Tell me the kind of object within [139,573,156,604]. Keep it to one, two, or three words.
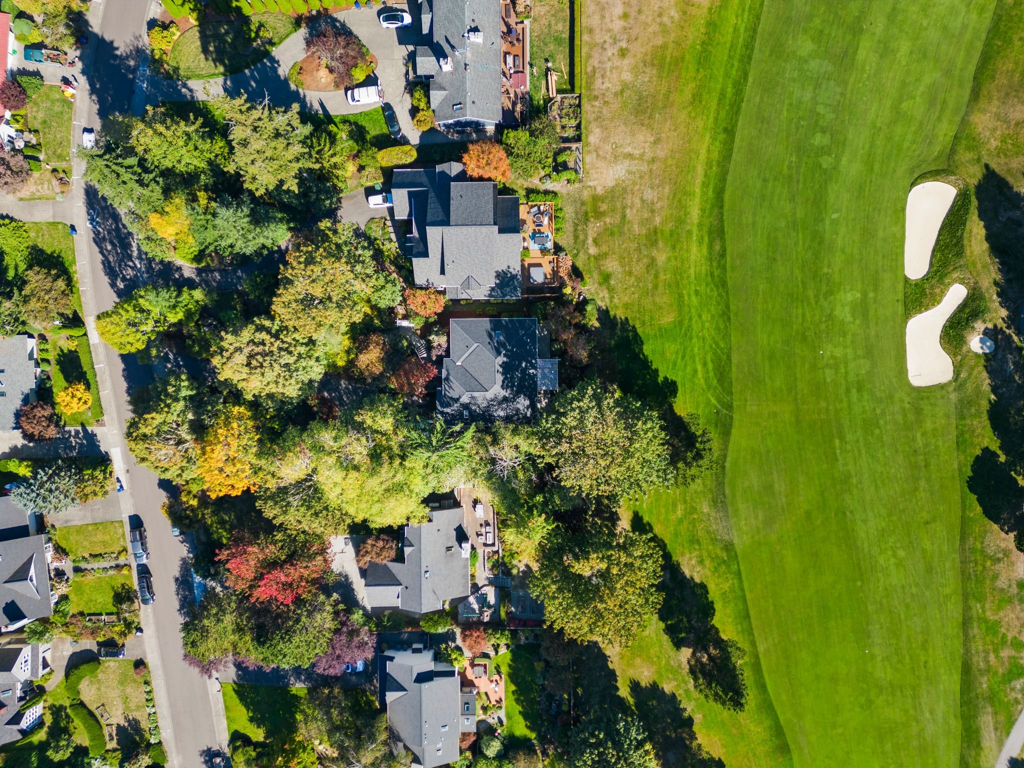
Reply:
car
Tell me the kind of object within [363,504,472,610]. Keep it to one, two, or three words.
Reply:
house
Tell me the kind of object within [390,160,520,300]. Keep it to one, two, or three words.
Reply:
house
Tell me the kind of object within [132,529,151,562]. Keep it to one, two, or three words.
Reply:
vehicle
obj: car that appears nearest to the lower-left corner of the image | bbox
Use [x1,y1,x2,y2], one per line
[97,645,127,660]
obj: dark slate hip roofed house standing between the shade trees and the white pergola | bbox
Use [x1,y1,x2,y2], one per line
[436,318,538,426]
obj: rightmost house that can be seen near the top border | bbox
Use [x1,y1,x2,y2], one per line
[414,0,502,129]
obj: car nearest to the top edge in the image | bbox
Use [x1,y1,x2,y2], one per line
[381,15,410,29]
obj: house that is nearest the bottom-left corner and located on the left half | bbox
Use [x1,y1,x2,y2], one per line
[0,679,47,745]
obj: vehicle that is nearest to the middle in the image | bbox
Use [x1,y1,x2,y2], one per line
[370,194,392,208]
